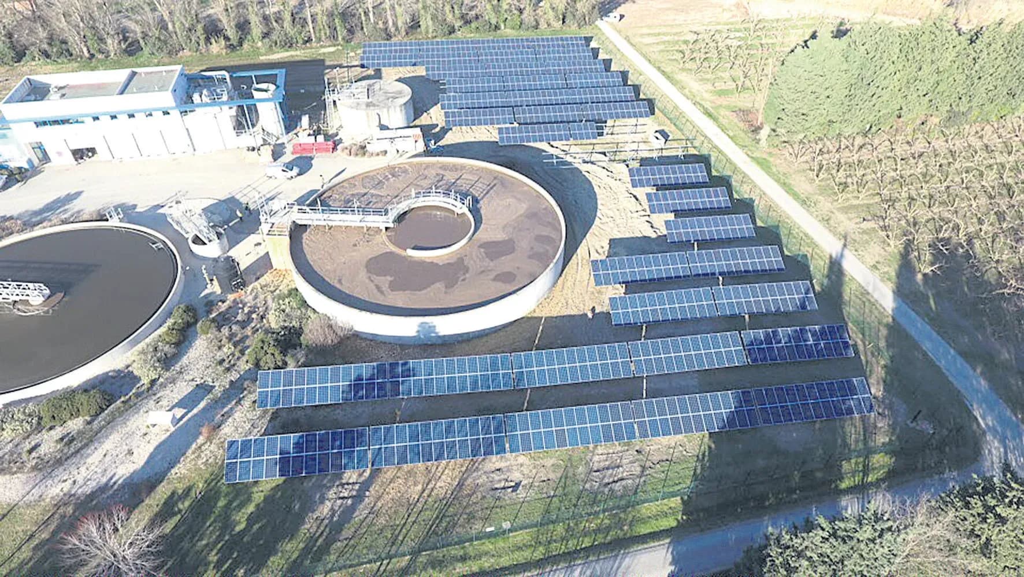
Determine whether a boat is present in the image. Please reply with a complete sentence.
No, the picture doesn't show any boat.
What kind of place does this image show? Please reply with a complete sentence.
The picture captures an industrial area.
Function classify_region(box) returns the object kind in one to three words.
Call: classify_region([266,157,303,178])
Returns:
vehicle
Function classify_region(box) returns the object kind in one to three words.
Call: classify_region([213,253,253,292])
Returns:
storage tank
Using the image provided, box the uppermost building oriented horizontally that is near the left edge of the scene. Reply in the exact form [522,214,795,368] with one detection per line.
[0,66,291,171]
